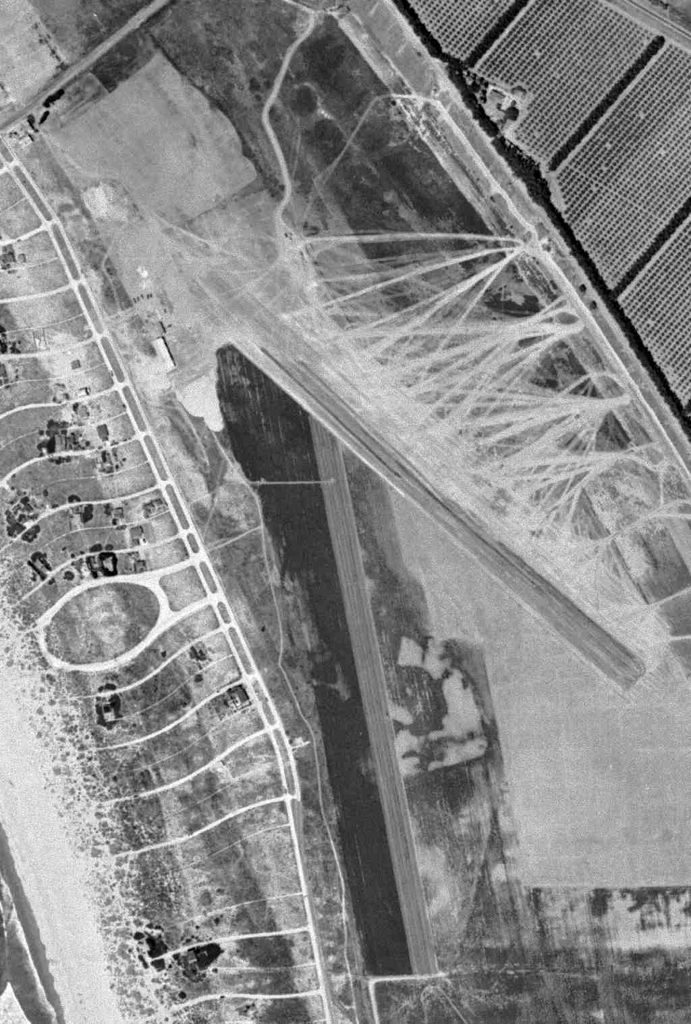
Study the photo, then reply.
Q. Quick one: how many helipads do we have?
none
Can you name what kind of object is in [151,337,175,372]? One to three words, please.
hangar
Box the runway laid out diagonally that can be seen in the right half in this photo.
[238,343,645,688]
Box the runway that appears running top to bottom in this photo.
[304,405,439,974]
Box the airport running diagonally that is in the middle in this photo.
[60,165,667,974]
